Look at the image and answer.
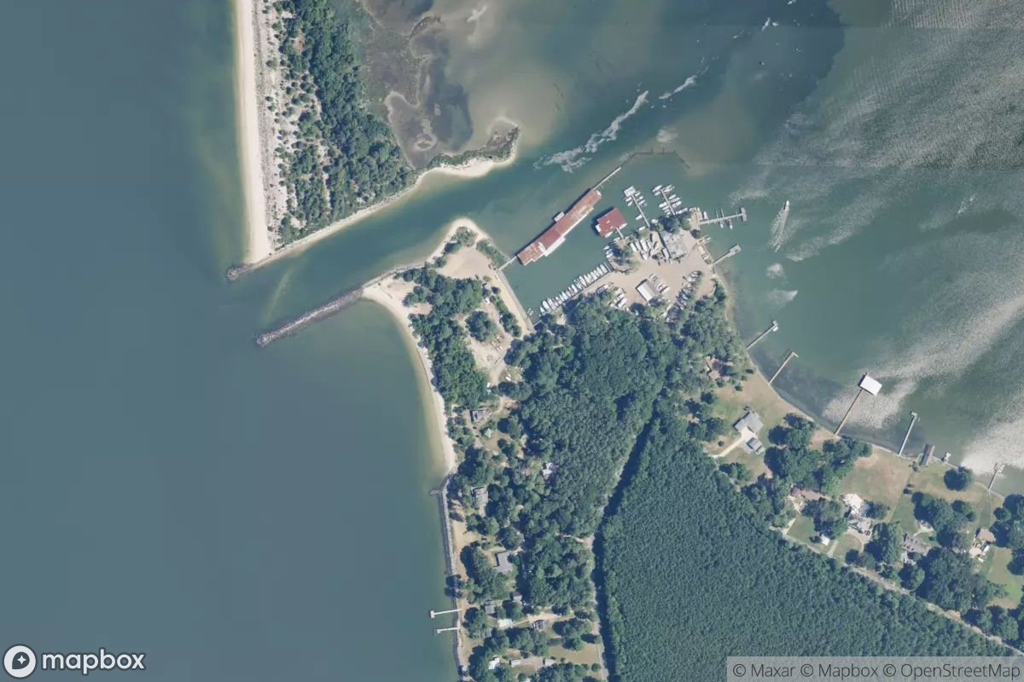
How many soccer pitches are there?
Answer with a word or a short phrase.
zero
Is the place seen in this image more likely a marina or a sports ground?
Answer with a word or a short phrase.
marina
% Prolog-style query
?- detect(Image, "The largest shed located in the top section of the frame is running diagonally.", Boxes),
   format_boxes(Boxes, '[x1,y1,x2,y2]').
[518,188,601,264]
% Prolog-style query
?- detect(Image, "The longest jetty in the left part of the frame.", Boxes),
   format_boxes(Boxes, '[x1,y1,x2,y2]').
[257,287,364,345]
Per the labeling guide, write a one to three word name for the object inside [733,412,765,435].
house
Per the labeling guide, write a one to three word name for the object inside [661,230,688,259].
building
